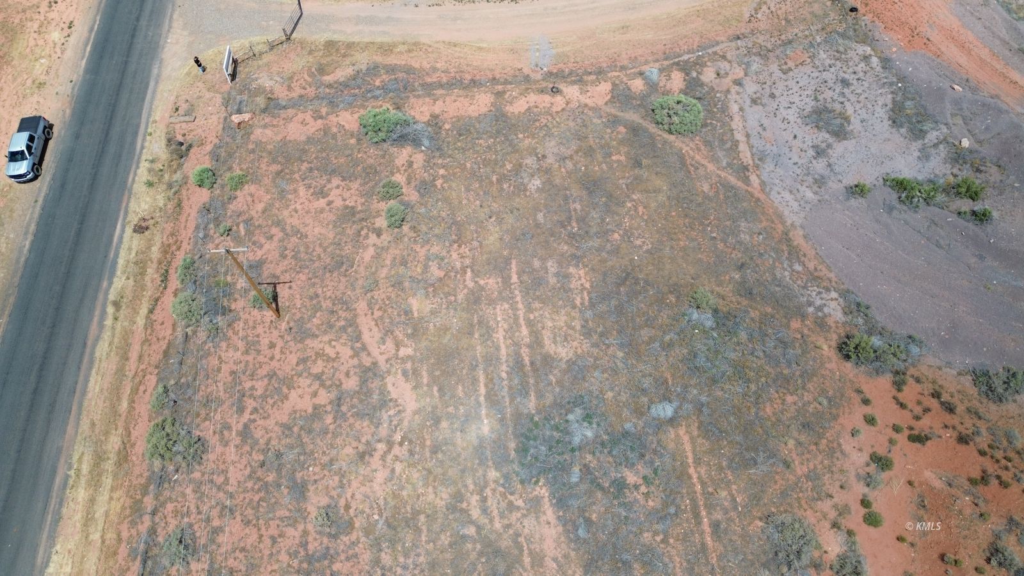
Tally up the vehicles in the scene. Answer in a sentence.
Altogether the scene contains 1 vehicle.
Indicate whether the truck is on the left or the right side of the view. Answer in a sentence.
The truck is on the left side of the image.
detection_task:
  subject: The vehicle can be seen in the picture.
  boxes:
[4,116,53,182]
